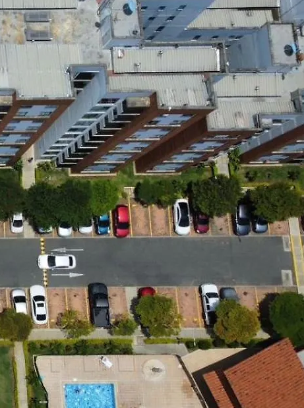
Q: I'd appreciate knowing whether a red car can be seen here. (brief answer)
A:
Yes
